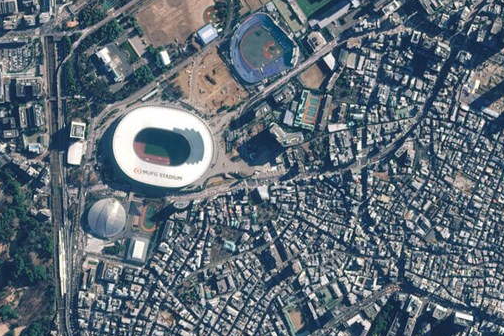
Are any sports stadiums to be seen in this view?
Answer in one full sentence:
Yes, the frame does contain a sports stadium.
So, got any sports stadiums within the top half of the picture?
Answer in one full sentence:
Yes, a sports stadium shows up within the top half of the picture.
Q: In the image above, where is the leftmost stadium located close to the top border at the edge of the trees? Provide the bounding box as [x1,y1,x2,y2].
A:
[231,12,299,85]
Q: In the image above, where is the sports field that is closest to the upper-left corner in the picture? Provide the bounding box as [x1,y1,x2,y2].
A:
[144,132,182,159]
